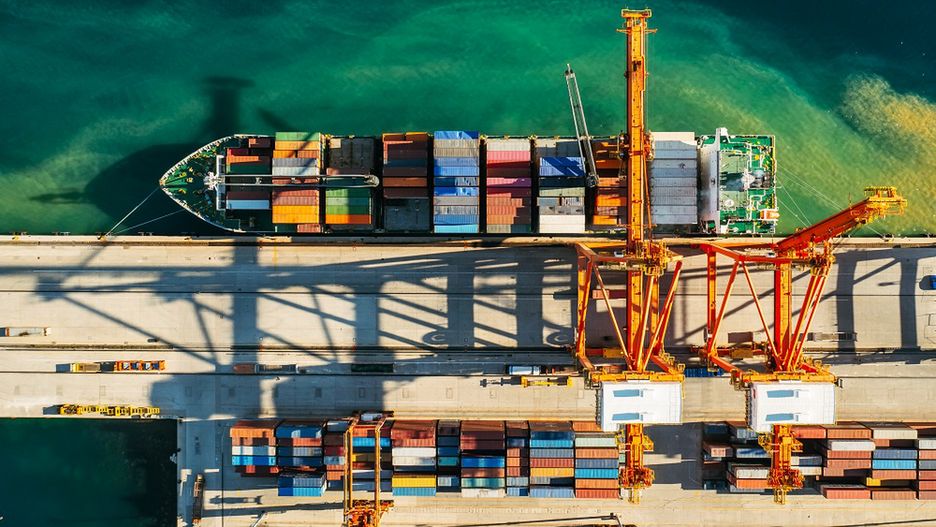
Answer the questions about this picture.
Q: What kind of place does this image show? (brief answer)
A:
port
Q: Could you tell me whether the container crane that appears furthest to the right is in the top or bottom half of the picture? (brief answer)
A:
bottom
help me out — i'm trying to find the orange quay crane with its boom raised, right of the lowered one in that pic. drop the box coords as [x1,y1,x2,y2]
[675,192,917,506]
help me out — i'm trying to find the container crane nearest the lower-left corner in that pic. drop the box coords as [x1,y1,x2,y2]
[343,399,397,527]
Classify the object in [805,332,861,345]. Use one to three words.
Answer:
vehicle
